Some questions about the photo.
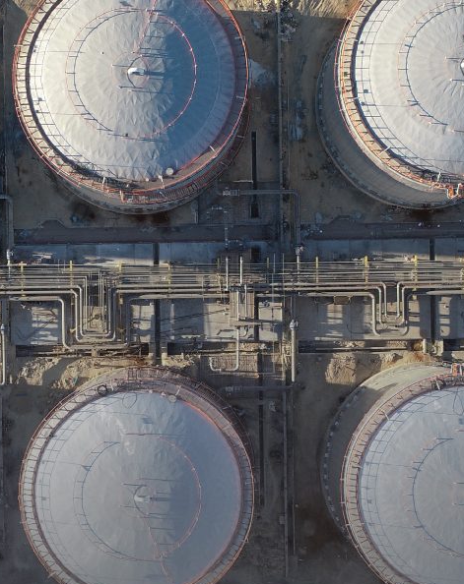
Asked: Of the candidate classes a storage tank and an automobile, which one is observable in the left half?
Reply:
storage tank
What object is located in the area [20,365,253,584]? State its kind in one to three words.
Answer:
storage tank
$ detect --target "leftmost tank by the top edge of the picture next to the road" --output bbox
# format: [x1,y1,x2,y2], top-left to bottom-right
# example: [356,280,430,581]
[12,0,248,216]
